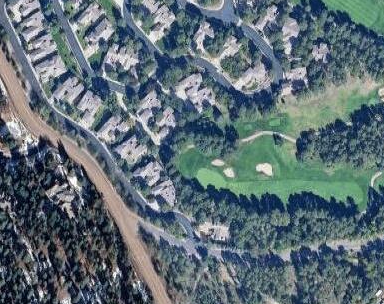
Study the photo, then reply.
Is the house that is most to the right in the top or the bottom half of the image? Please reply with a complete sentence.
It is in the top half that the house that is most to the right appears.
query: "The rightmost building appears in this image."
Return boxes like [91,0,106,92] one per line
[308,41,329,64]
